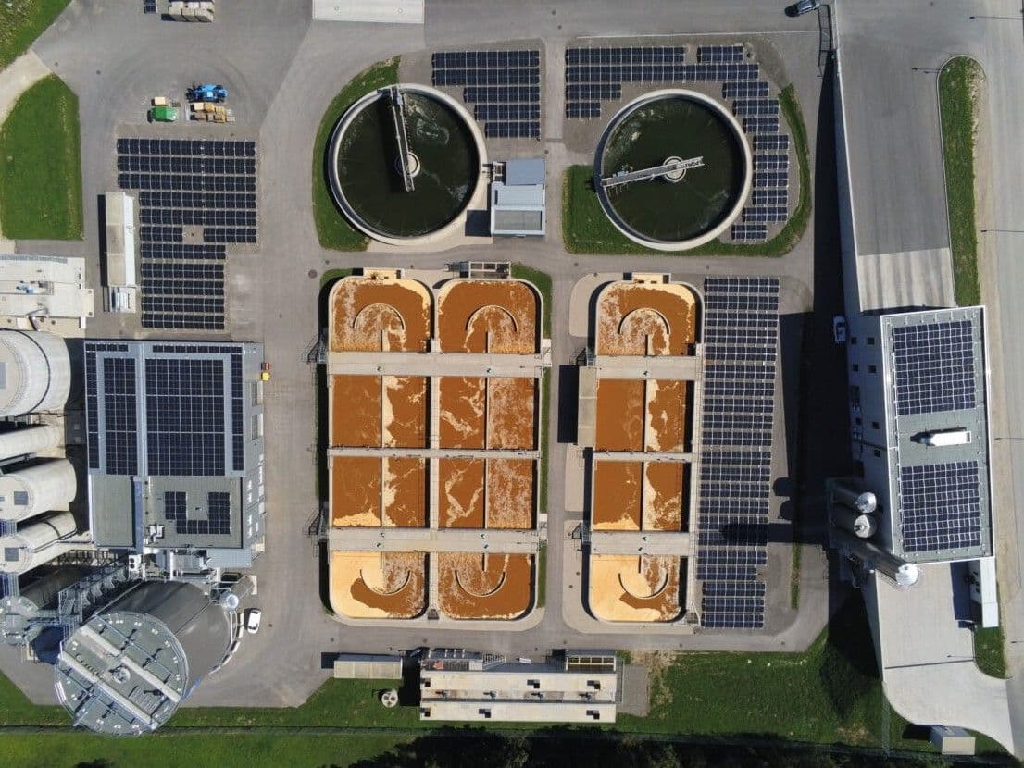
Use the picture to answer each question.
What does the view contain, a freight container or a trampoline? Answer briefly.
freight container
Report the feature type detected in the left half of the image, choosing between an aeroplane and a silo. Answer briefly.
silo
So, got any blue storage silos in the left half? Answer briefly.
No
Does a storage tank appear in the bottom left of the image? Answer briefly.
Yes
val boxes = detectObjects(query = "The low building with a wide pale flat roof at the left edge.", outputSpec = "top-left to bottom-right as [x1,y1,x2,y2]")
[0,253,100,318]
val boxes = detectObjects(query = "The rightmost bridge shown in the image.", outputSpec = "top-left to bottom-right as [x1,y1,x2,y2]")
[600,155,704,186]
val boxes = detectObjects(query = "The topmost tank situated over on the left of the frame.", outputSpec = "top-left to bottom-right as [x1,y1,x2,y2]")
[327,82,488,246]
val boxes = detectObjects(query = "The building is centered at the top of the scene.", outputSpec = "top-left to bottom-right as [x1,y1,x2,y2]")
[491,159,545,237]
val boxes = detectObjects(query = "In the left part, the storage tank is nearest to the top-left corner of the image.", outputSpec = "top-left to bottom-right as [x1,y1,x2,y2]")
[0,327,71,417]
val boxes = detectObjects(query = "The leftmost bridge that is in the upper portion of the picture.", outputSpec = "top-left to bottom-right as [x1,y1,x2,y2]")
[391,85,414,191]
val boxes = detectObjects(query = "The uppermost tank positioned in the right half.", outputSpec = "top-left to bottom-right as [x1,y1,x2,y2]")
[592,88,754,253]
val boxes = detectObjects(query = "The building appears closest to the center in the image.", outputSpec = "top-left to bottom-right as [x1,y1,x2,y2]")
[575,366,597,448]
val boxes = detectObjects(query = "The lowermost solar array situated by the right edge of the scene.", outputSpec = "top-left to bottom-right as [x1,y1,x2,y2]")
[900,460,982,552]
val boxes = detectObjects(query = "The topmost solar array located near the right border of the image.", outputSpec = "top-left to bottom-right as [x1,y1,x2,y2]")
[894,320,976,414]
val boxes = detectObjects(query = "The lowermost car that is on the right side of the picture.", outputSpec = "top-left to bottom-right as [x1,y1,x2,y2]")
[832,315,847,344]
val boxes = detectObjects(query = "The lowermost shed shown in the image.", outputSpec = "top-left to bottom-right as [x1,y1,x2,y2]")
[928,724,976,755]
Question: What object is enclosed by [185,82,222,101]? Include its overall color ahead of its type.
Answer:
blue work vehicle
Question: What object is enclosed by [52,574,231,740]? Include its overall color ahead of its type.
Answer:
gray storage tank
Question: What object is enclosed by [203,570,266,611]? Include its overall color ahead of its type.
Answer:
gray silo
